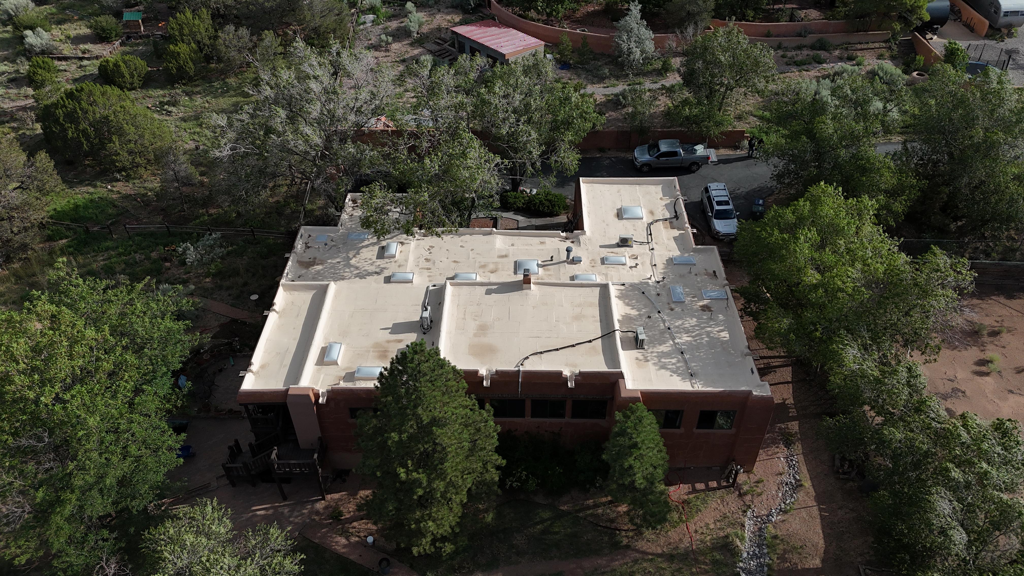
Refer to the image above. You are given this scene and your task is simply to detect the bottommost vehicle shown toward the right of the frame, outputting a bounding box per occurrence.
[698,183,740,240]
